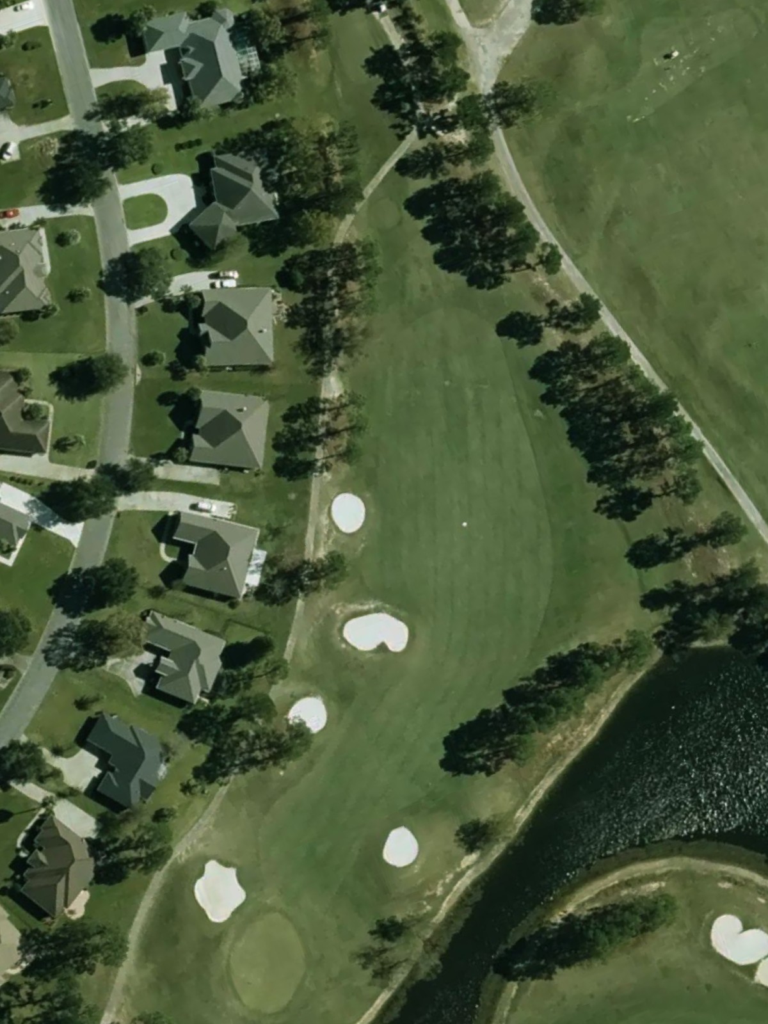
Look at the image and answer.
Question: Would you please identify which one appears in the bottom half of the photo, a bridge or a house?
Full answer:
You can see a house in the bottom half of the photo.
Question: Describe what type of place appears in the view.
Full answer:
This looks like a golf course.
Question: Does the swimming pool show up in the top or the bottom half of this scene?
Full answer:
The swimming pool sits in the top half of the picture.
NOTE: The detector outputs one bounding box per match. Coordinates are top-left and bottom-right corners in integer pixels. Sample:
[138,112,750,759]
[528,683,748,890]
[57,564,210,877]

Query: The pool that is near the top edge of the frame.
[233,32,255,54]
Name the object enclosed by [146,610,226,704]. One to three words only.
house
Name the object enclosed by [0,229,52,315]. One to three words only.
house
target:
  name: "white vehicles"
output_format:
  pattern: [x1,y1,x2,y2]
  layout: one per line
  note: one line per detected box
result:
[216,279,236,288]
[17,1,36,12]
[668,50,679,58]
[197,502,217,512]
[220,271,239,279]
[0,141,17,160]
